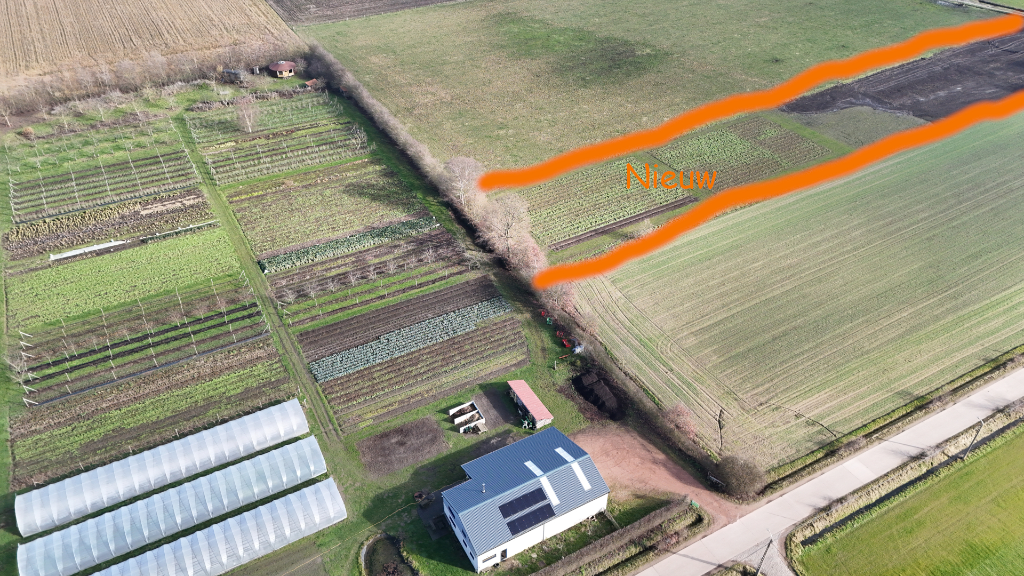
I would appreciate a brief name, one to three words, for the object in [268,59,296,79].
shed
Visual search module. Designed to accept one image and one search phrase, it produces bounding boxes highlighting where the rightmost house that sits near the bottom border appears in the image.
[440,428,612,572]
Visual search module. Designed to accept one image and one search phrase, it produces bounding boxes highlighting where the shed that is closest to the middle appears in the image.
[507,380,555,431]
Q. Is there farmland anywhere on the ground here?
Yes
